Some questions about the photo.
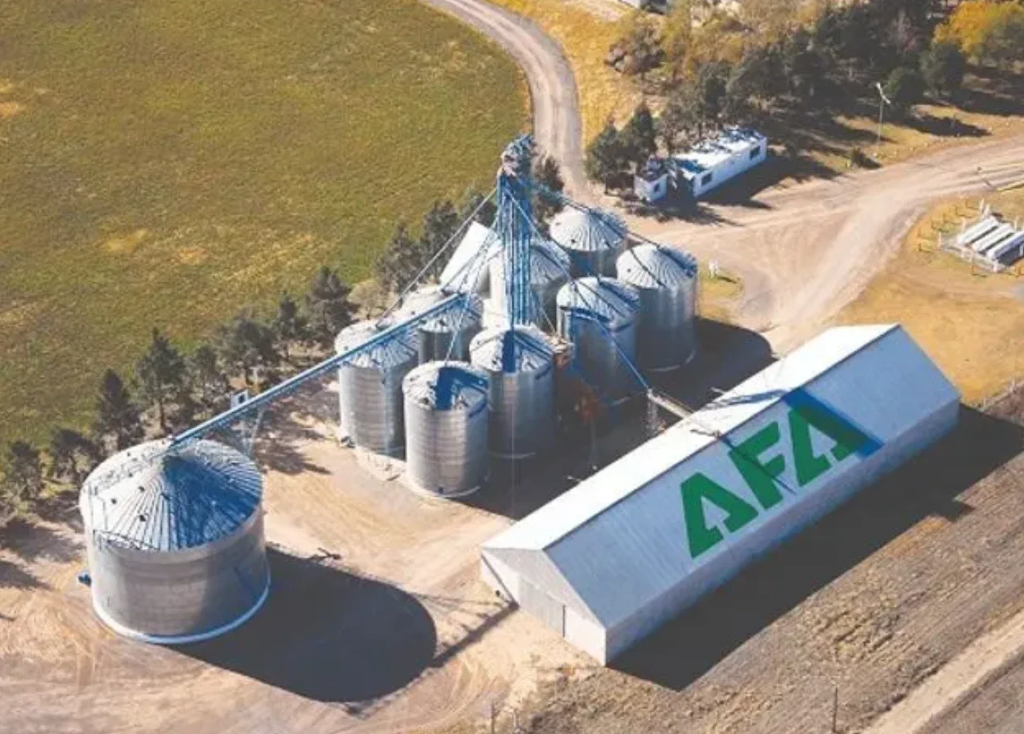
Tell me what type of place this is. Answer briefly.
industrial area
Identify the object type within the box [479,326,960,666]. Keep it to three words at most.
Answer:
barn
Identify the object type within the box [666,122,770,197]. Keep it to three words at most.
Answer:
house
